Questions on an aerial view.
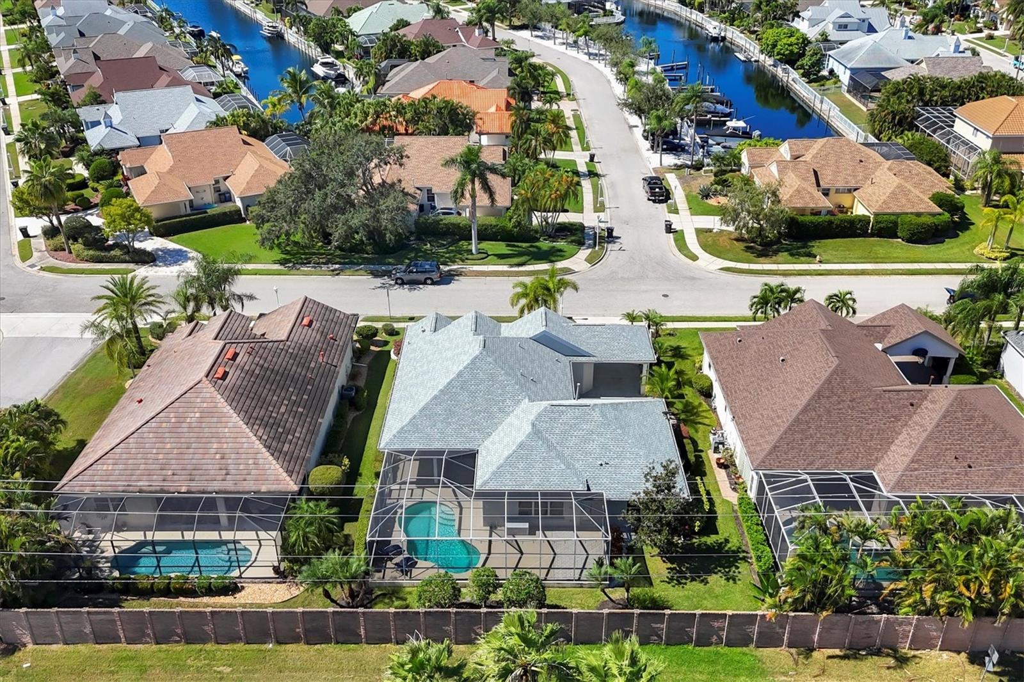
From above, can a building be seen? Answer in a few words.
Yes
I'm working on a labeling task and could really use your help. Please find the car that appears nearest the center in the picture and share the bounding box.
[393,262,443,286]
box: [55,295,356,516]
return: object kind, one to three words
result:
house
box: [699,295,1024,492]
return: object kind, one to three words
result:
house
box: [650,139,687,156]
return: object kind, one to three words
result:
car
